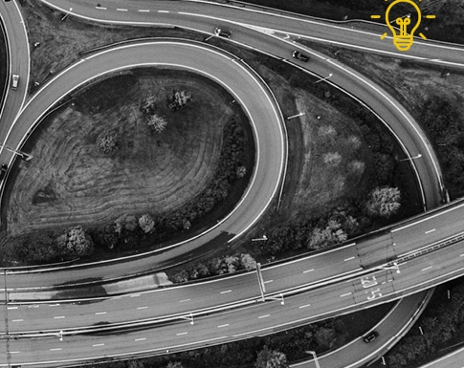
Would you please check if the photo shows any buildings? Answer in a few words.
No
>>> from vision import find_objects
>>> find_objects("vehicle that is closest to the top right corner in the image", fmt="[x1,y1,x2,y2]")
[293,49,310,62]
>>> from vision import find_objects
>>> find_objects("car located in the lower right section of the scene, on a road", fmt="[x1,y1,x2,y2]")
[363,330,380,344]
